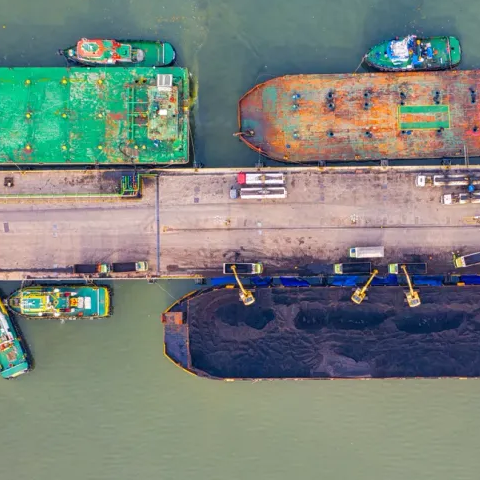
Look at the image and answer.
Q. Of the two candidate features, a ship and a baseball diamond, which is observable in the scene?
ship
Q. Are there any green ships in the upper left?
Yes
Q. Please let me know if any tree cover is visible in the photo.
No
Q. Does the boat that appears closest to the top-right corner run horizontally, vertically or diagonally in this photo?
horizontally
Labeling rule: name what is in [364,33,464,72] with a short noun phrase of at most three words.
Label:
boat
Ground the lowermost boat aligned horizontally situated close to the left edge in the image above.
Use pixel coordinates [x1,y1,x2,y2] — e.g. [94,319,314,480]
[4,285,116,319]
